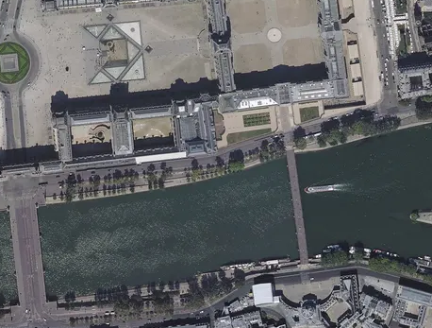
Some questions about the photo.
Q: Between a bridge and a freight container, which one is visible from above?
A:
bridge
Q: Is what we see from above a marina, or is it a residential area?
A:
marina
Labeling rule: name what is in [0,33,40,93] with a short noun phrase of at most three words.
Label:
roundabout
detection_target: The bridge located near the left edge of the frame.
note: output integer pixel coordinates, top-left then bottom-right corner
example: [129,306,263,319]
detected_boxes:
[0,178,57,322]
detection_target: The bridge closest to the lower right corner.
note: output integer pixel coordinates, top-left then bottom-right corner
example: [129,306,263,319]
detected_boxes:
[286,144,310,269]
